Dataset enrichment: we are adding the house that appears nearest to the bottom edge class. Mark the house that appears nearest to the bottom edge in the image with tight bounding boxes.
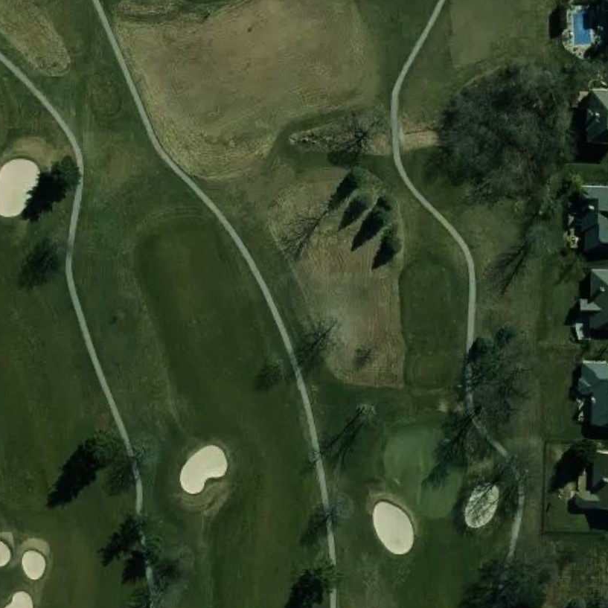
[561,466,608,510]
